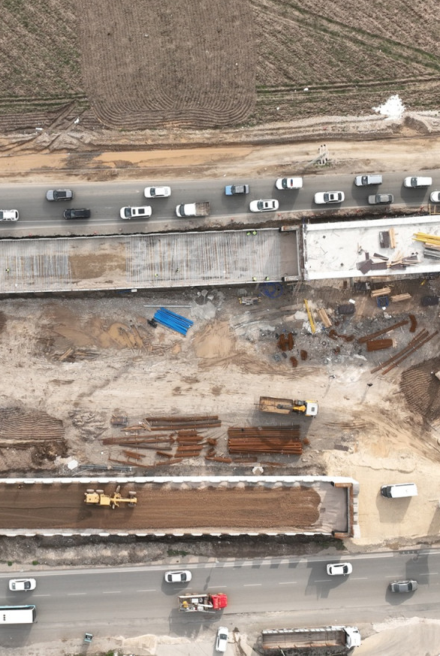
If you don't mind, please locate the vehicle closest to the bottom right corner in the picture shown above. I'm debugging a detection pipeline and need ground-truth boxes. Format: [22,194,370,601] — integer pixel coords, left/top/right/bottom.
[387,578,417,593]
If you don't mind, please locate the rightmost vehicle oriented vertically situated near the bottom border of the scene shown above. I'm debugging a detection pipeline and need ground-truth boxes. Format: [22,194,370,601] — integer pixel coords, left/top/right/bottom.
[215,627,228,654]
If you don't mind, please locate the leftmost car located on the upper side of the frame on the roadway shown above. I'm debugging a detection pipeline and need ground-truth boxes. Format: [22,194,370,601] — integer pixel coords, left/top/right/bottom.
[0,208,19,221]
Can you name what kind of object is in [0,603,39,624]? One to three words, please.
bus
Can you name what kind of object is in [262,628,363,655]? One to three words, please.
truck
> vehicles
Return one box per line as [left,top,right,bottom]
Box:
[215,627,228,654]
[404,176,433,189]
[175,202,210,217]
[275,176,303,189]
[0,603,39,624]
[256,397,319,417]
[387,578,417,593]
[63,207,90,220]
[224,183,248,195]
[354,174,383,186]
[46,188,73,201]
[120,206,151,219]
[313,190,344,203]
[249,199,278,212]
[84,487,141,510]
[0,208,19,221]
[143,186,171,198]
[429,192,440,203]
[8,577,36,591]
[381,483,420,498]
[262,628,363,655]
[325,562,352,576]
[366,193,393,205]
[164,569,191,582]
[176,591,226,611]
